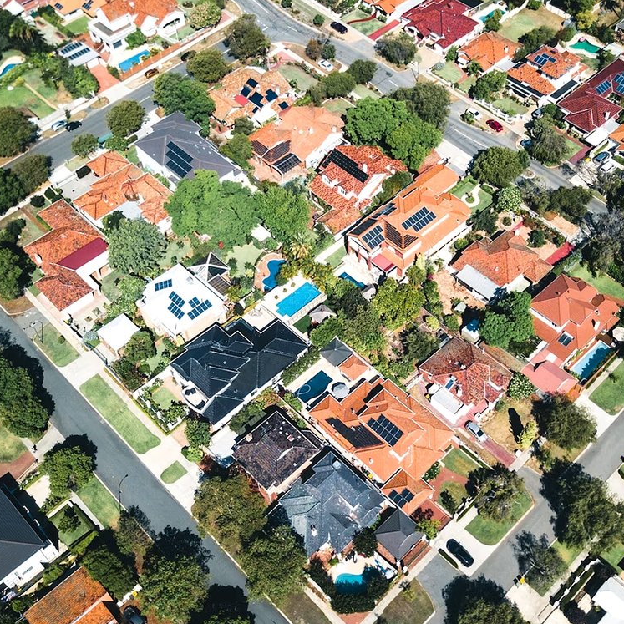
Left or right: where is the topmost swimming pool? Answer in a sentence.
You can find the topmost swimming pool on the right side of the picture.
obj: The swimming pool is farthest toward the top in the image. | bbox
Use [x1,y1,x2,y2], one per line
[474,2,509,27]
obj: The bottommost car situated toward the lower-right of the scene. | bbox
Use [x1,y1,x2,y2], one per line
[443,536,475,569]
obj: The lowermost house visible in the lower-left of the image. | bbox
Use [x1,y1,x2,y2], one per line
[23,566,123,624]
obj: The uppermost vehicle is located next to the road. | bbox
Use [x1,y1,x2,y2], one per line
[329,18,350,35]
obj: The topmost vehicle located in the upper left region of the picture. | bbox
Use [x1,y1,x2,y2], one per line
[141,66,164,79]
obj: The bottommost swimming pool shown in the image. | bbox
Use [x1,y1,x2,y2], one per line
[328,552,398,601]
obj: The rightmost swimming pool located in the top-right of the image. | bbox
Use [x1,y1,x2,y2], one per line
[562,35,604,56]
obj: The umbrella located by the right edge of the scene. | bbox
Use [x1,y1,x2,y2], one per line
[610,329,624,345]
